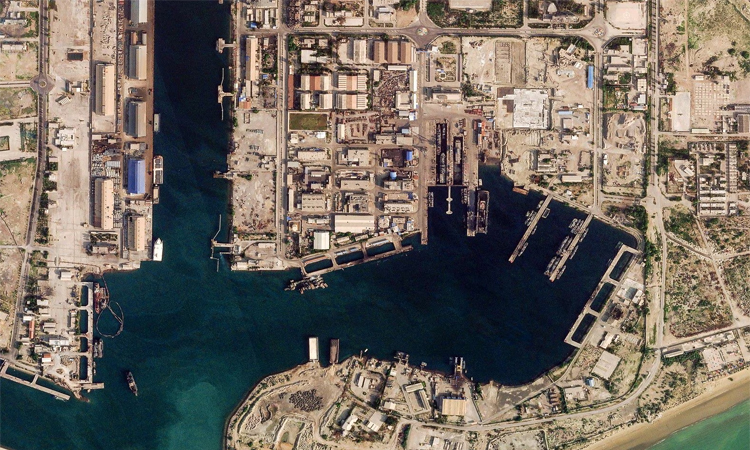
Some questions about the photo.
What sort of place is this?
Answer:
port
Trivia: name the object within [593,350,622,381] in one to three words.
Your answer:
building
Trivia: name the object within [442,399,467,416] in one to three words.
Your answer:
building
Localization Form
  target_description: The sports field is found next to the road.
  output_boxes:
[289,113,328,130]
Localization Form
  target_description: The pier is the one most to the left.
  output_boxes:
[0,363,70,399]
